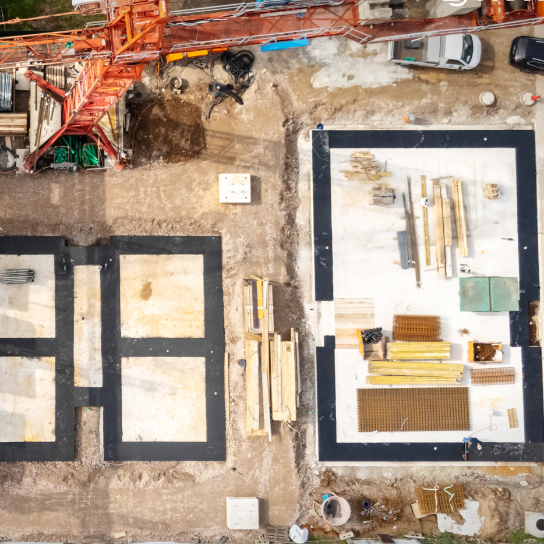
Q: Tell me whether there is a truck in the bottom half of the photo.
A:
No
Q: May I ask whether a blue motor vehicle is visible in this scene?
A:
No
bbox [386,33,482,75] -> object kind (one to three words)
truck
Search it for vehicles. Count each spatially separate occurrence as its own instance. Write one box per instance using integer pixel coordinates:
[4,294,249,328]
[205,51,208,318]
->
[386,33,482,75]
[509,34,544,76]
